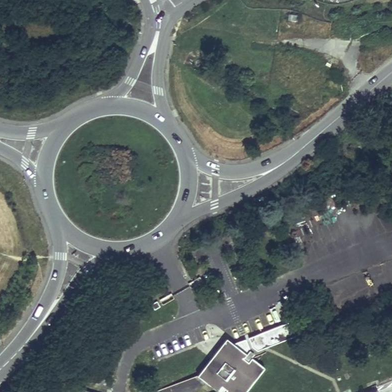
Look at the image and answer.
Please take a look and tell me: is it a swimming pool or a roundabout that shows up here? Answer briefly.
roundabout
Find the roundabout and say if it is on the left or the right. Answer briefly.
left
